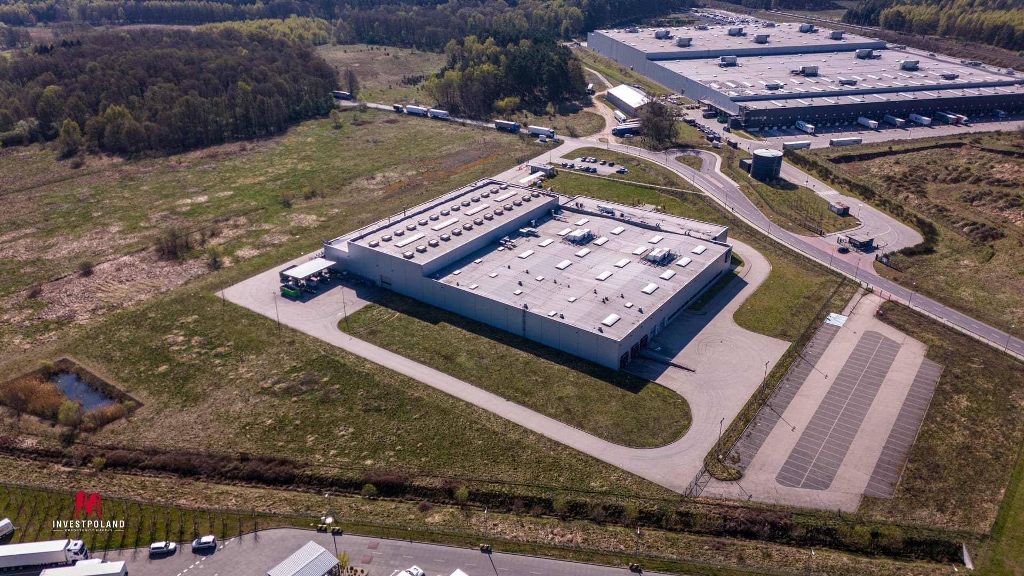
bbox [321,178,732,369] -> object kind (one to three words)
building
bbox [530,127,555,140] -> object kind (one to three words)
vehicle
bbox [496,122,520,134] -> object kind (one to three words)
vehicle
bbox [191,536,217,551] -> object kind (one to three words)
car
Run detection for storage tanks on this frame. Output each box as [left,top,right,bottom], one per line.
[745,146,785,185]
